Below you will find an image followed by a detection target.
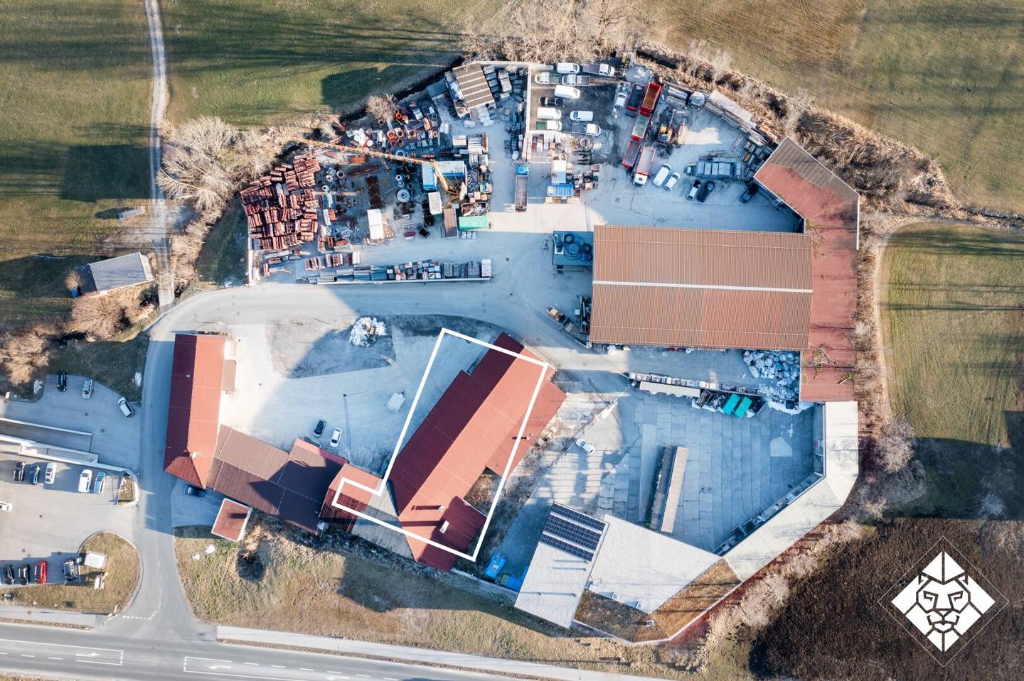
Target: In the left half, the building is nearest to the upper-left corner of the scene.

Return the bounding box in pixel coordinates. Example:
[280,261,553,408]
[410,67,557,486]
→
[76,252,160,294]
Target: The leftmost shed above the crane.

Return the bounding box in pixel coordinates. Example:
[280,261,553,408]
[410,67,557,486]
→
[445,61,496,122]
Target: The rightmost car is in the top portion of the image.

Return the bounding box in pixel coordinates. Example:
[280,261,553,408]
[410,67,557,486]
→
[738,185,757,204]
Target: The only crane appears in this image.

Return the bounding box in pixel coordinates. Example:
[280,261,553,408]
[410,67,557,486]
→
[305,137,471,203]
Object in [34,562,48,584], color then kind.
red car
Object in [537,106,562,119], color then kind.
white vehicle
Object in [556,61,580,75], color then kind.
white vehicle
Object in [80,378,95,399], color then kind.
blue car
